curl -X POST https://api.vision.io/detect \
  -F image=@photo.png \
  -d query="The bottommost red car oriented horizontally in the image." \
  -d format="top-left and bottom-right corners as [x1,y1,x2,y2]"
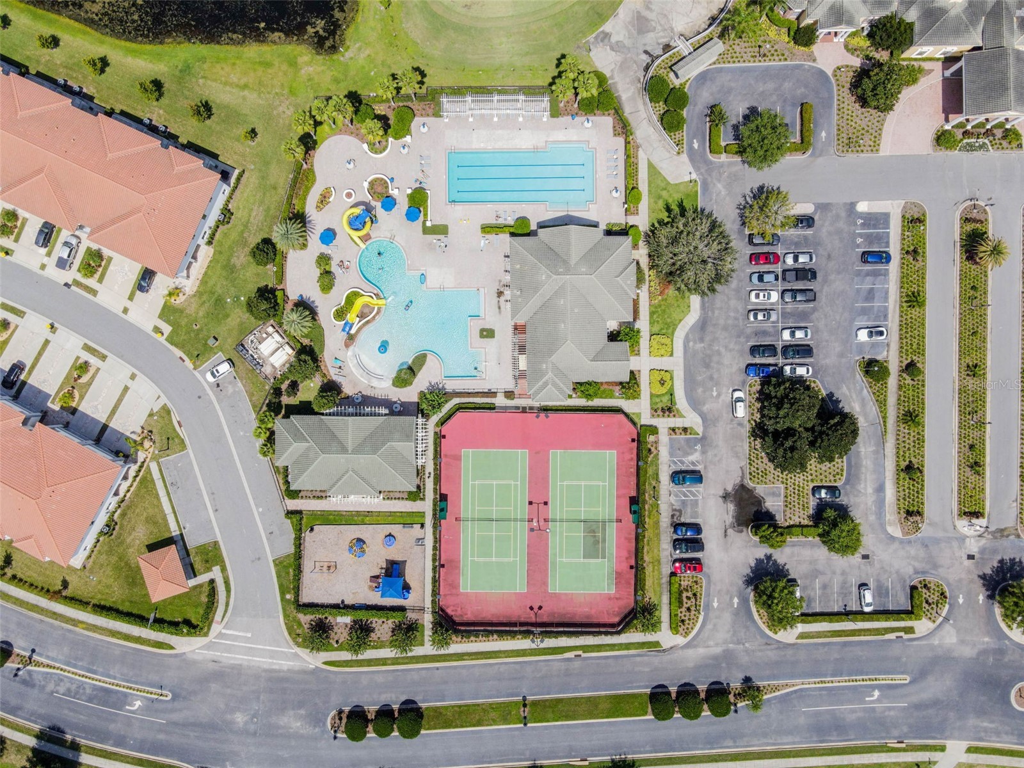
[672,560,702,574]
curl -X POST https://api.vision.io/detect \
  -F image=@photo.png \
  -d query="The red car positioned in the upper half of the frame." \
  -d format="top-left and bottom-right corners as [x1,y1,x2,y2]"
[749,252,779,265]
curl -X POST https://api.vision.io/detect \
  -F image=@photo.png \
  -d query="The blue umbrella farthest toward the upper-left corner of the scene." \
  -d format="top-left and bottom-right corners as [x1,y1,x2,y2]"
[320,230,335,245]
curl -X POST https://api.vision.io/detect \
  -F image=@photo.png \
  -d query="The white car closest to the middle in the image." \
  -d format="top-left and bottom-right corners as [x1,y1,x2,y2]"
[730,389,745,418]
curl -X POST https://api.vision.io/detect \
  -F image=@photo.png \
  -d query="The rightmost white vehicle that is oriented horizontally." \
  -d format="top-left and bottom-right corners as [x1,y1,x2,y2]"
[856,327,885,340]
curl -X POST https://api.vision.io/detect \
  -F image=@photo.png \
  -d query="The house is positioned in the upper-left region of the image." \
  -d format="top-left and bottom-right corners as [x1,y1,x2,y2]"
[0,66,245,279]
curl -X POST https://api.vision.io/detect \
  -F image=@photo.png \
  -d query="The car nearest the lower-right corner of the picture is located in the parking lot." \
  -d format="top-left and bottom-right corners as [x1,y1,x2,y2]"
[857,582,873,611]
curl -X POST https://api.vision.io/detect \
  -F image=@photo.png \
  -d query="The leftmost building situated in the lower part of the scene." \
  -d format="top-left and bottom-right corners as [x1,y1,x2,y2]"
[0,391,134,567]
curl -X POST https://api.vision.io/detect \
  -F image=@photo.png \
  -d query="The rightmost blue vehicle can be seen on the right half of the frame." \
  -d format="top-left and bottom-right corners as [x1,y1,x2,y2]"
[859,250,889,264]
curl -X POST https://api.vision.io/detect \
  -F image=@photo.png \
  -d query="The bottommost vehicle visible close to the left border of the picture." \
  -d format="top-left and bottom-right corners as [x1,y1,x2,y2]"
[3,360,25,390]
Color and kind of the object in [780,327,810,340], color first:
white vehicle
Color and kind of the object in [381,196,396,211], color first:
blue umbrella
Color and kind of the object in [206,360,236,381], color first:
white car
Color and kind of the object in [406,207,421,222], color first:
blue umbrella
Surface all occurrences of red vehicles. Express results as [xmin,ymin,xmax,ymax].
[672,560,702,574]
[749,252,779,265]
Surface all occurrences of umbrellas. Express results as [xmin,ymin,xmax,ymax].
[381,196,396,211]
[406,207,421,222]
[320,230,335,245]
